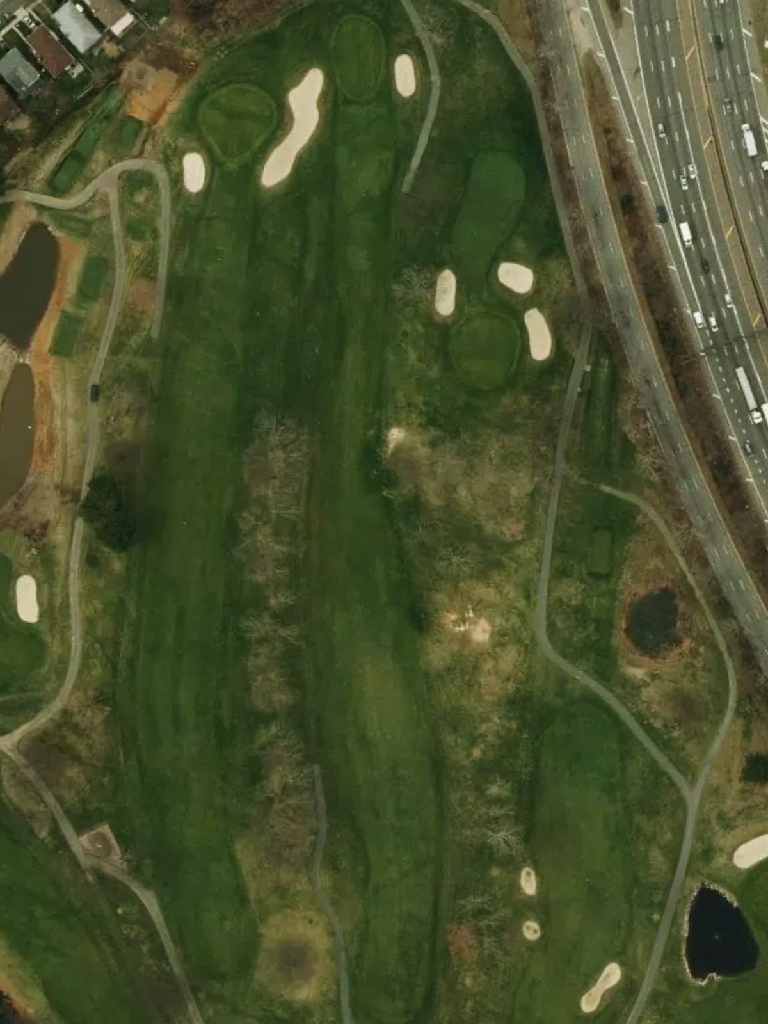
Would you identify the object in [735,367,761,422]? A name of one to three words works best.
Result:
truck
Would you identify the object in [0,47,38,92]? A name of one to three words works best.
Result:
house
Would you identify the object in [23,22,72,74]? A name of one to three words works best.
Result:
house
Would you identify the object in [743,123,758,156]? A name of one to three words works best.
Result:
vehicle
